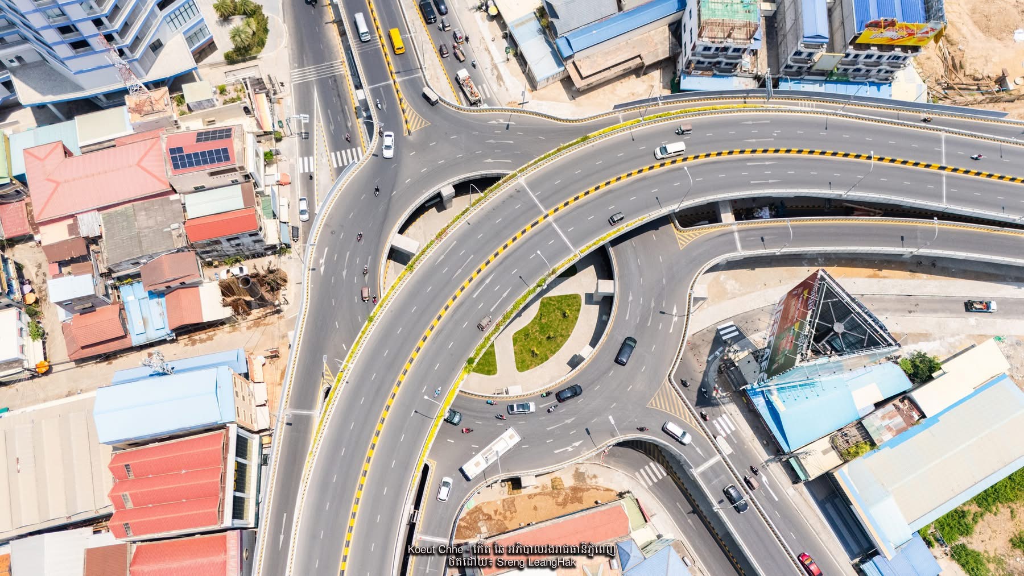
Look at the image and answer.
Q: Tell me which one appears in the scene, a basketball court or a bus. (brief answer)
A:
bus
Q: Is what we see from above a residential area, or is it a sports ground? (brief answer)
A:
residential area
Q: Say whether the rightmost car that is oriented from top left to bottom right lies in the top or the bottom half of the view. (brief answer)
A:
bottom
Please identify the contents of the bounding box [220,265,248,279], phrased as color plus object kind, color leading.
white car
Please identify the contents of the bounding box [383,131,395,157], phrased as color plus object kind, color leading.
white vehicle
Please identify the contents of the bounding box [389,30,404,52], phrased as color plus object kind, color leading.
yellow vehicle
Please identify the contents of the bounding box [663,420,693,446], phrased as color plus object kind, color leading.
white car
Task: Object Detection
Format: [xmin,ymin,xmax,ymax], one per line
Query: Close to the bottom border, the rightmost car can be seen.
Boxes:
[799,552,825,576]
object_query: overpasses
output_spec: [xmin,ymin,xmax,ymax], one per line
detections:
[284,106,1024,576]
